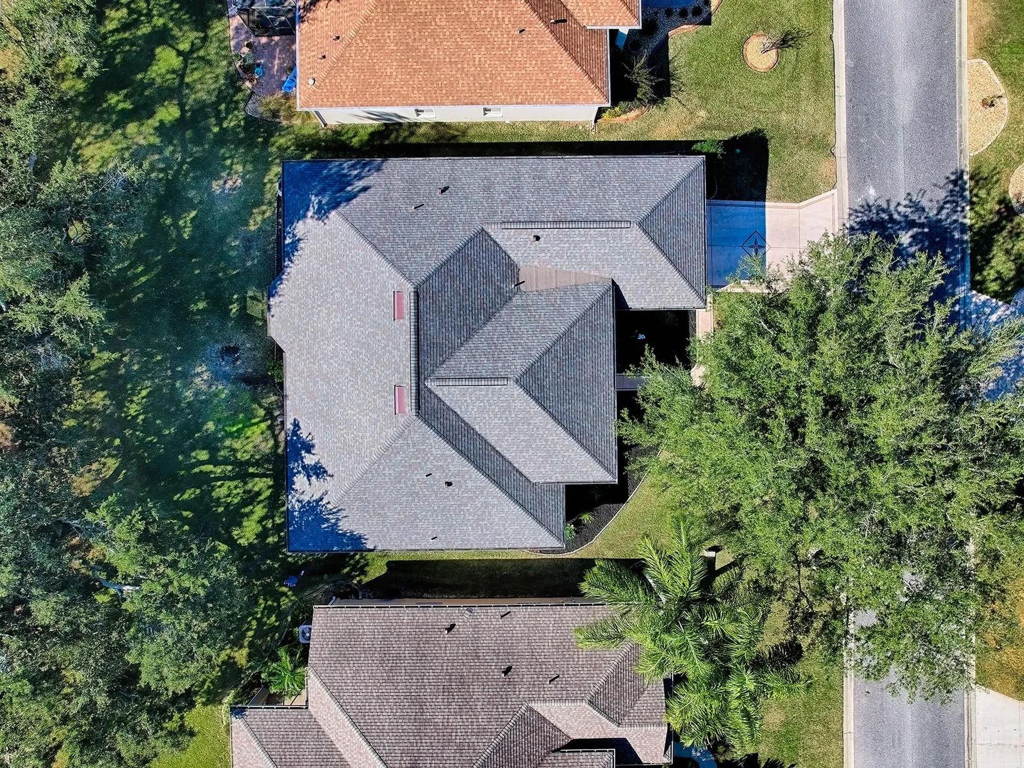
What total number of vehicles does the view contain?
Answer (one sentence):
There are no vehicles in this view.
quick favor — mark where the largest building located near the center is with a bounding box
[265,153,708,552]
